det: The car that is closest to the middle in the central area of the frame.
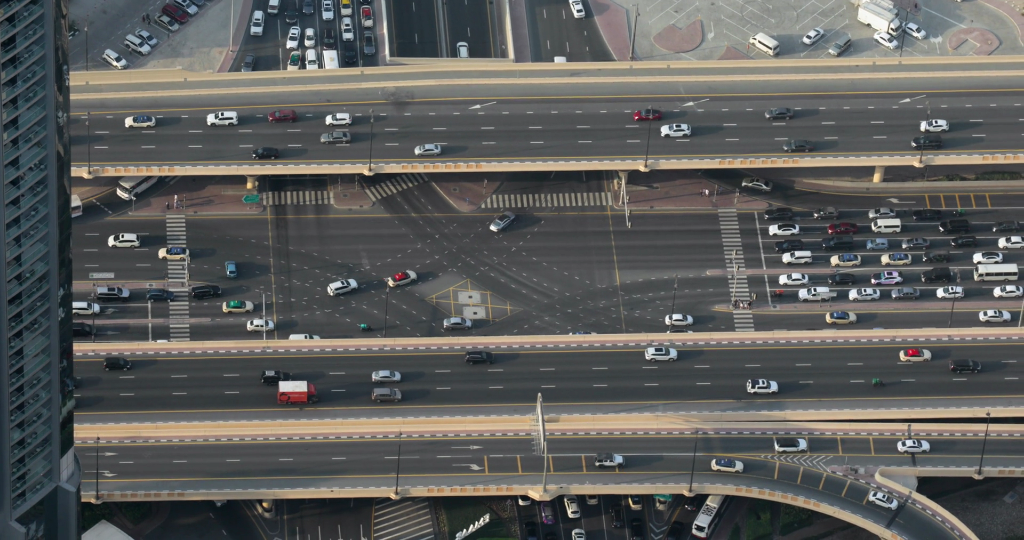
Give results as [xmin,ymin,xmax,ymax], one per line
[489,212,516,231]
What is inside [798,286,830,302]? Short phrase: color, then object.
white car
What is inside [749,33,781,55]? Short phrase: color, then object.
white vehicle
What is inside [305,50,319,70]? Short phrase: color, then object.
white car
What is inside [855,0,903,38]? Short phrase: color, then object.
white truck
